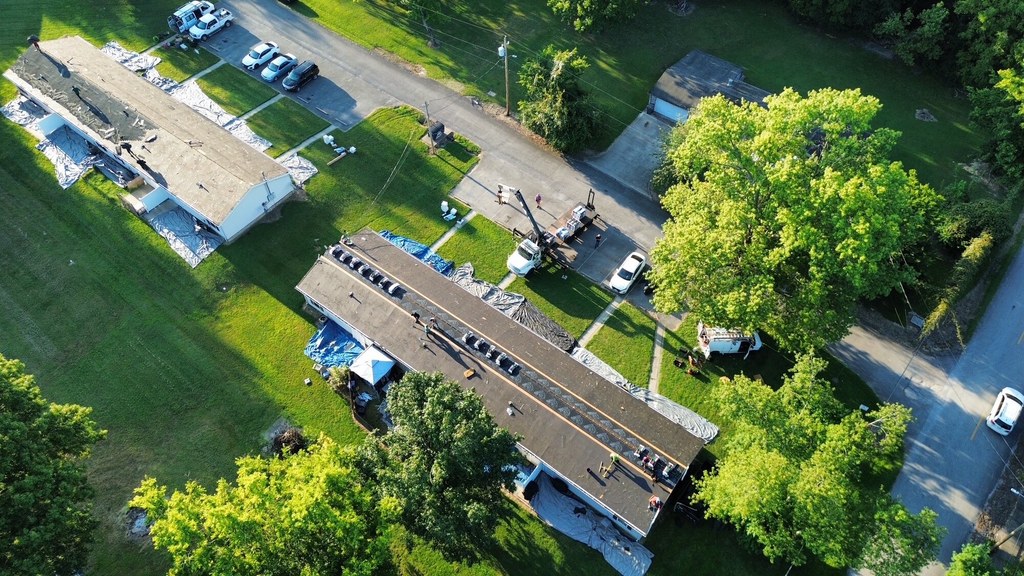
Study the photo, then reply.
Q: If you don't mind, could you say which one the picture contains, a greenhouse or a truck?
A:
truck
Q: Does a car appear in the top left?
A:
Yes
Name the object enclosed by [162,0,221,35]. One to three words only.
van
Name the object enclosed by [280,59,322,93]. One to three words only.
car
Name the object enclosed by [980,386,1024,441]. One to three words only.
car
